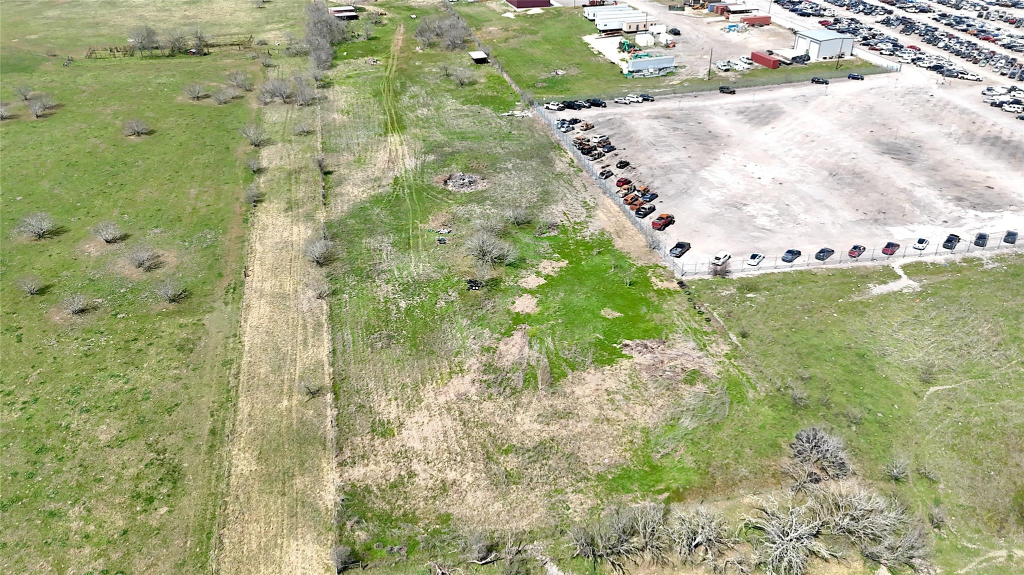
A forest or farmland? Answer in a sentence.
It's farmland.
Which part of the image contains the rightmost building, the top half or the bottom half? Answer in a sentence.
The rightmost building sits in the top half of the picture.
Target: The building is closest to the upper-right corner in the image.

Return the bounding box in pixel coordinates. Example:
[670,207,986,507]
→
[796,26,859,58]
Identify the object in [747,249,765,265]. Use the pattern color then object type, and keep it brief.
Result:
white car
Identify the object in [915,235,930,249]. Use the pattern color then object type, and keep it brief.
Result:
white car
